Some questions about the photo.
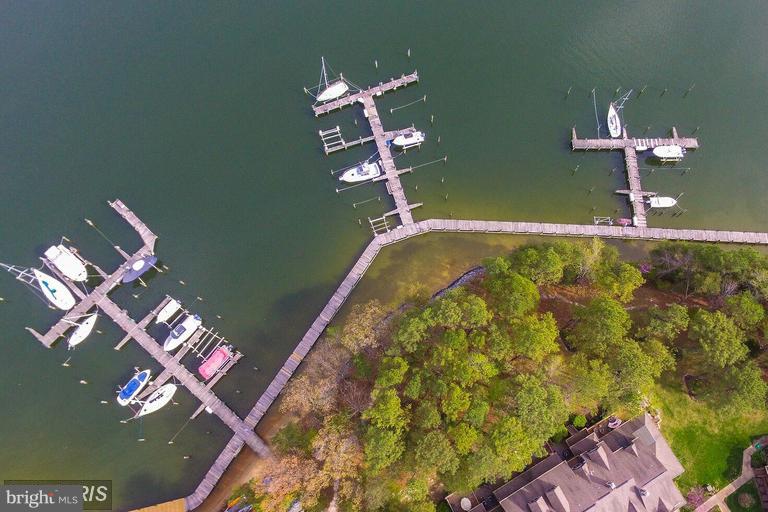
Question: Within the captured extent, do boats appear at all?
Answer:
Yes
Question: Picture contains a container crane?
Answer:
No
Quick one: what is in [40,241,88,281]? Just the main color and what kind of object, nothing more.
white boat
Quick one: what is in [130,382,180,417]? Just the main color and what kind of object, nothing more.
white boat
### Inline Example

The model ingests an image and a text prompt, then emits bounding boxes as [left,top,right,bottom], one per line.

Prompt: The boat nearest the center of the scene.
[336,164,385,181]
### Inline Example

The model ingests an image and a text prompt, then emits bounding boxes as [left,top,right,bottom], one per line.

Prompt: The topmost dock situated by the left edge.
[25,199,272,462]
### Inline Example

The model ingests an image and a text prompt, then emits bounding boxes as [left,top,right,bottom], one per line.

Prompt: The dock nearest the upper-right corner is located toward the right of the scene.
[571,125,701,229]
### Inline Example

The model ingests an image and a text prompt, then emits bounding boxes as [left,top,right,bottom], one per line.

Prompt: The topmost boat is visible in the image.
[316,58,349,102]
